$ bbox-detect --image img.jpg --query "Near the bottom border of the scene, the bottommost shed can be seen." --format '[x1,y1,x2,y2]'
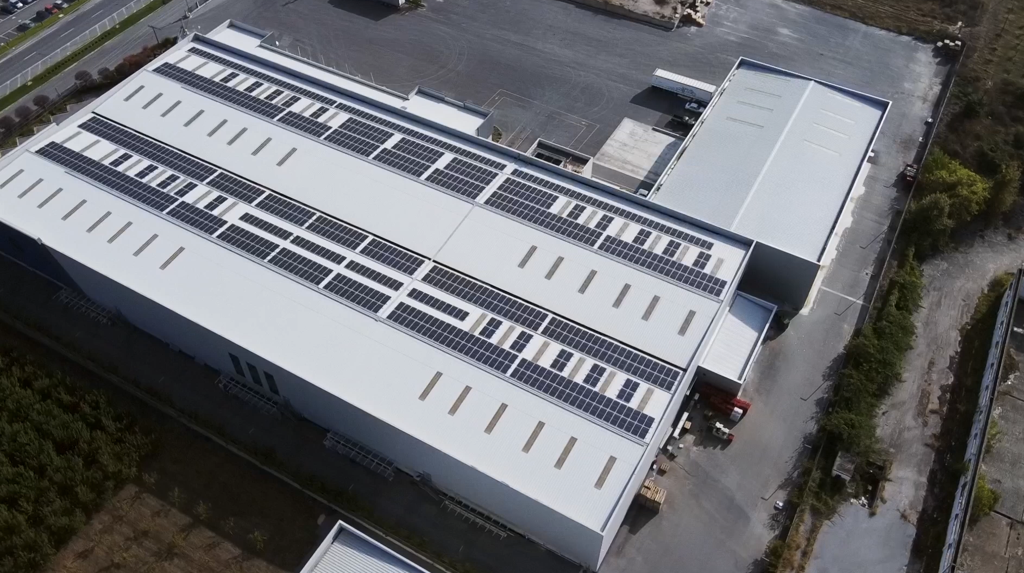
[300,520,431,573]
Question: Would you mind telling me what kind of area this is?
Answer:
industrial area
